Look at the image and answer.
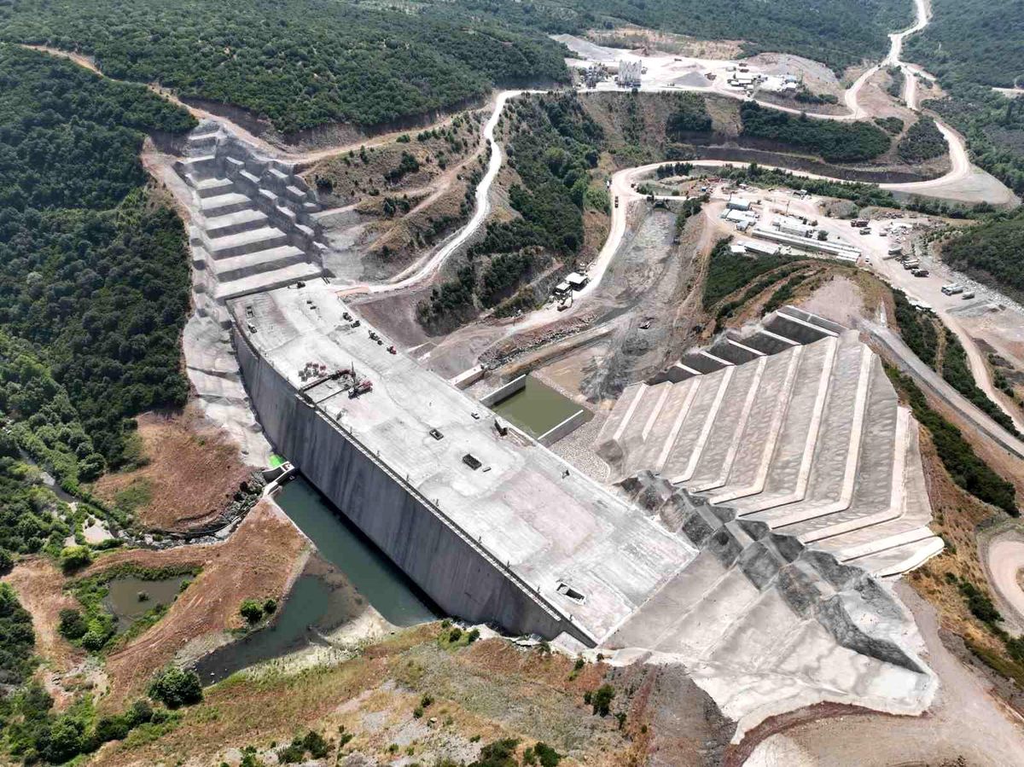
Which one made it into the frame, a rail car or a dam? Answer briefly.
dam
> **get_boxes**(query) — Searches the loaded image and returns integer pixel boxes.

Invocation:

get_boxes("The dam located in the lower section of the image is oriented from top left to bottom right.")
[224,277,697,648]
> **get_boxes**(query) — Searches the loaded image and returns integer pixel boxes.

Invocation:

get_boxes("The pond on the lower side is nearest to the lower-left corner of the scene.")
[104,574,193,631]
